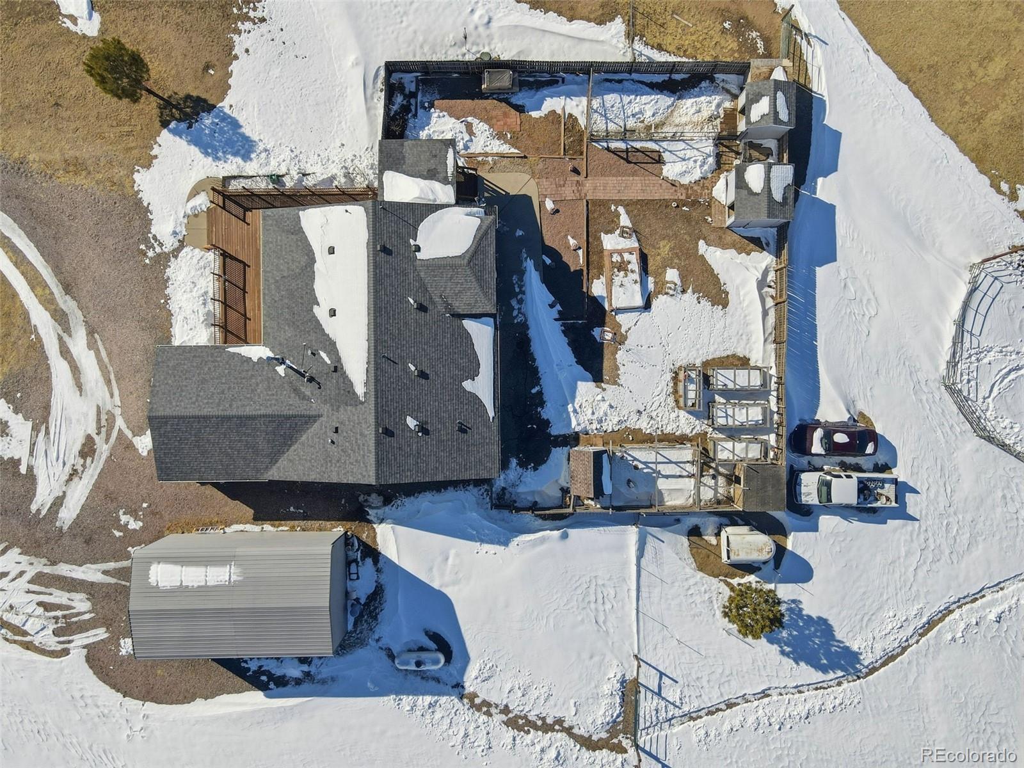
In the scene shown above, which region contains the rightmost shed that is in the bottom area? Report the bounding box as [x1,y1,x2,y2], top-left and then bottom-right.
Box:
[734,464,786,512]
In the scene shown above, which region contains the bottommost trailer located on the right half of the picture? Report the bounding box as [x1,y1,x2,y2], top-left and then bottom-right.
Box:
[716,520,781,565]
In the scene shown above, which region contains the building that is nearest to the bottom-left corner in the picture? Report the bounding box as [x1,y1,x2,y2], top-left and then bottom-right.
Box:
[128,531,349,659]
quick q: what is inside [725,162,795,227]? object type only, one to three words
shed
